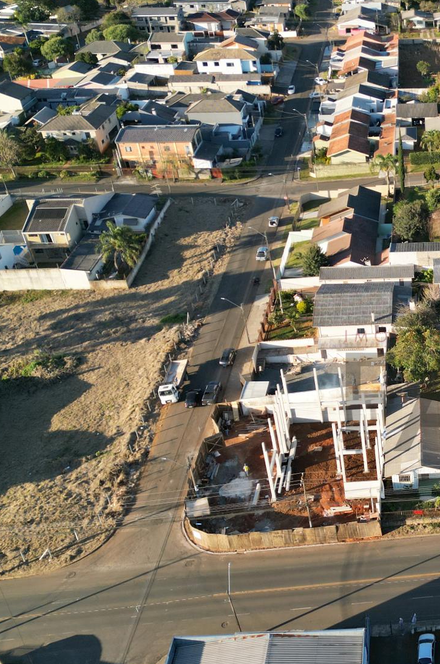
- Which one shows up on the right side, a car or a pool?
car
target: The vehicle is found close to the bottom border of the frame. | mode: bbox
[416,633,439,664]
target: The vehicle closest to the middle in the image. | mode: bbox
[218,343,239,367]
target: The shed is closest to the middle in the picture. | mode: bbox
[240,382,269,417]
